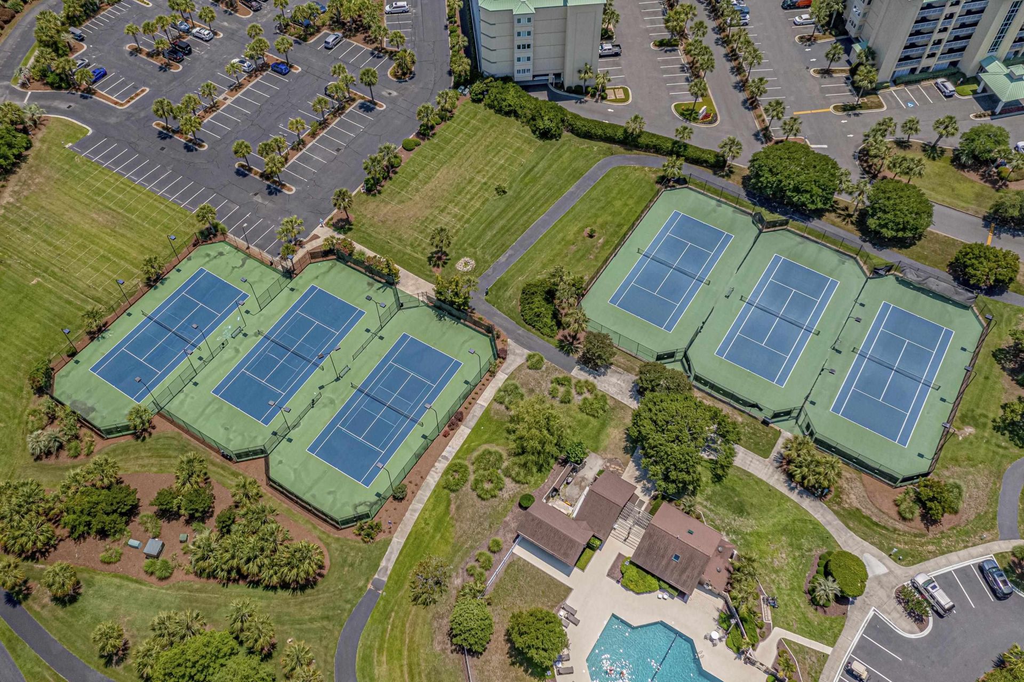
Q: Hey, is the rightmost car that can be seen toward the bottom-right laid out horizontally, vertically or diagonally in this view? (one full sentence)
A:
The rightmost car that can be seen toward the bottom-right has been laid out diagonally relative to the frame.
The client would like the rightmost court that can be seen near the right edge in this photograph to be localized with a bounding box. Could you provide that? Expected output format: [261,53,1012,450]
[796,275,982,488]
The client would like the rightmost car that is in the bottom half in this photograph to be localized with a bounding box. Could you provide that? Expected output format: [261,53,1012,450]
[982,556,1018,596]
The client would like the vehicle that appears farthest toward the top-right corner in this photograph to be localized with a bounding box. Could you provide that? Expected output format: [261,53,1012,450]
[937,76,962,95]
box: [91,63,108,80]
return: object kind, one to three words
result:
car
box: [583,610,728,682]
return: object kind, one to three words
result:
swimming pool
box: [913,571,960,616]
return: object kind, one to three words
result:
car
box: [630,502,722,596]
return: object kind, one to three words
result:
building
